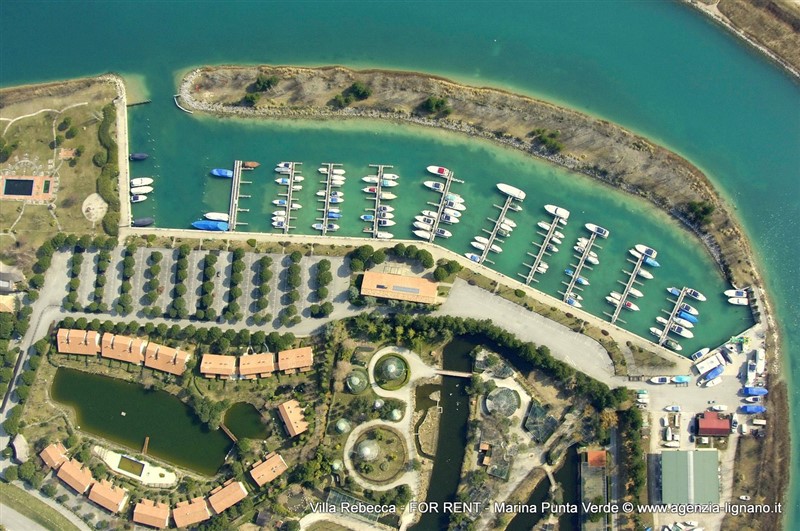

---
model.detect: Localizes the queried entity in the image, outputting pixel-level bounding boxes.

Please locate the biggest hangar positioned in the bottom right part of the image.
[658,447,719,504]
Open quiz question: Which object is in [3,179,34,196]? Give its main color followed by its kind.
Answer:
black swimming pool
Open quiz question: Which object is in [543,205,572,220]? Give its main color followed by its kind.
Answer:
white boat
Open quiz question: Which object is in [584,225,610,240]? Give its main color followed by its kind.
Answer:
white boat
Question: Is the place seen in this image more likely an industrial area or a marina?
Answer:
marina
